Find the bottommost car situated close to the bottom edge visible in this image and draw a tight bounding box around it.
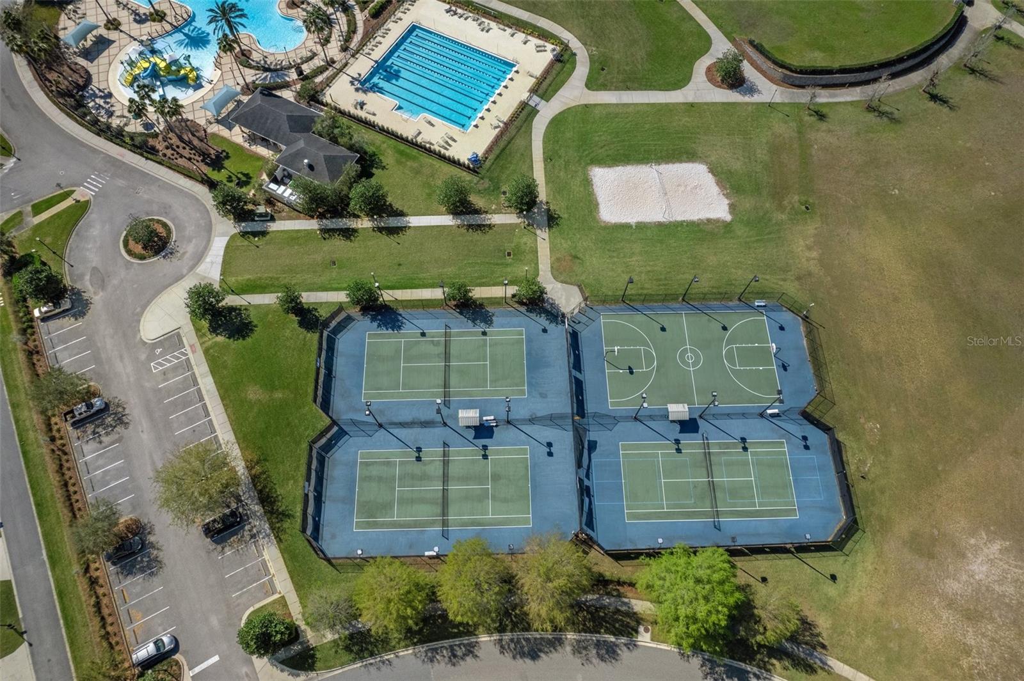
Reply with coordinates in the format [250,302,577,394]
[131,635,176,668]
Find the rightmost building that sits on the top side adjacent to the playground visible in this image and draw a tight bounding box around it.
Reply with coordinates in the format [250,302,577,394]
[229,87,359,189]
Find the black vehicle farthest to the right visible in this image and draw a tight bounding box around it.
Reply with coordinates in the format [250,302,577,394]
[201,509,241,537]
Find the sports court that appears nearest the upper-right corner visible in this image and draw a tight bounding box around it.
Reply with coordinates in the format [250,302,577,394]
[589,162,733,225]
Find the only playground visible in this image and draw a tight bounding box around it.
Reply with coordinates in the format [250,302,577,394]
[115,25,216,104]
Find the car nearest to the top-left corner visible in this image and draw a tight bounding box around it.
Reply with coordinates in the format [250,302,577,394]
[35,299,70,319]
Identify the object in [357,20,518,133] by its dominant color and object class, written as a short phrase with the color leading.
blue swimming pool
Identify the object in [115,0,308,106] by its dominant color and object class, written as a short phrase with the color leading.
blue swimming pool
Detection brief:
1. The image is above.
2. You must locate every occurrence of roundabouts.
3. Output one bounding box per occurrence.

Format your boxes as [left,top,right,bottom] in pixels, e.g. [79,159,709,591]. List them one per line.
[120,215,177,263]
